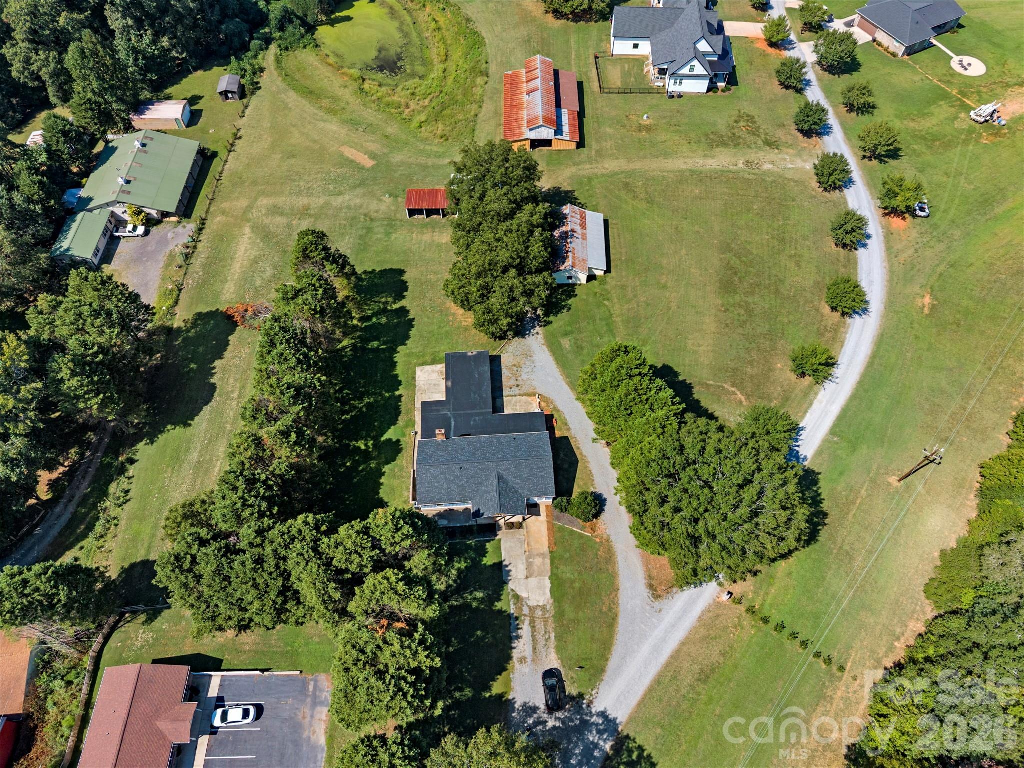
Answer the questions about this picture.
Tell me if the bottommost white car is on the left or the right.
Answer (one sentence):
It is on the left.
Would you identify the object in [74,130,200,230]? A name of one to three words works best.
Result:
barn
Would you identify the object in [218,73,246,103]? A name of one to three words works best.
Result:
shed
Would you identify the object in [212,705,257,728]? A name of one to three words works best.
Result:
car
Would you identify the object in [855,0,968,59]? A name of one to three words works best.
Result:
house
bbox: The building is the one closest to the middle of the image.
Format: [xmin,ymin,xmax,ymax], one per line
[414,350,555,525]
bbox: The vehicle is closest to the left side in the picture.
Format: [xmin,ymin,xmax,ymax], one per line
[111,224,148,239]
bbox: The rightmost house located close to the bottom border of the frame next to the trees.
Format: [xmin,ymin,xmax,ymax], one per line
[77,663,205,768]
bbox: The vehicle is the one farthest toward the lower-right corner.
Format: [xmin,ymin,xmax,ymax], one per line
[543,668,563,713]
